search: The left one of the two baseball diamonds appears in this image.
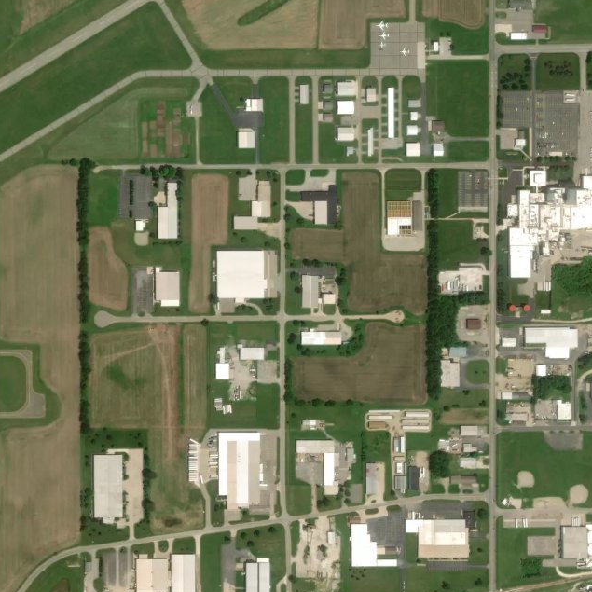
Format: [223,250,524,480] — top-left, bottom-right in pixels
[517,460,545,488]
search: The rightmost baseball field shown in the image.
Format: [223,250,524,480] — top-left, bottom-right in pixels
[563,464,592,502]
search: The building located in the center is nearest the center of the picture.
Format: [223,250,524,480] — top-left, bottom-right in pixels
[302,275,336,308]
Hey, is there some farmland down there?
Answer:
Yes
